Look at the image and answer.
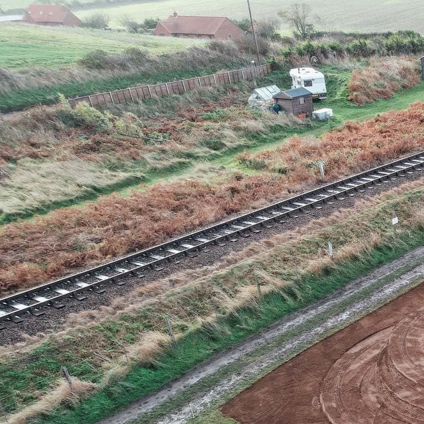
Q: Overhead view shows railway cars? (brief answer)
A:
No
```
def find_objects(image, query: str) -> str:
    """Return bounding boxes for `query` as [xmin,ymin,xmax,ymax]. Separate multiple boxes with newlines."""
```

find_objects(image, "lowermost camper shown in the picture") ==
[288,64,326,99]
